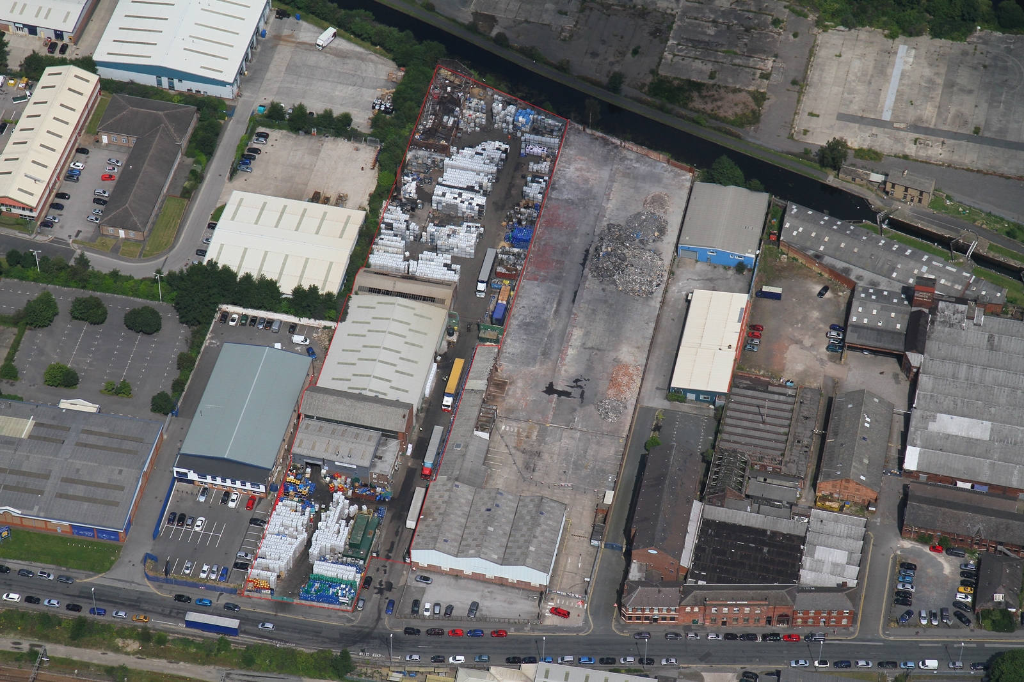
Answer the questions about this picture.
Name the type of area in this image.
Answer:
industrial area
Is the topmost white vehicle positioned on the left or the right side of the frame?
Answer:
left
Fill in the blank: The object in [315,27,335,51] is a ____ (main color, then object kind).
white vehicle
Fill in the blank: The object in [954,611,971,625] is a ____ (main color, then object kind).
black car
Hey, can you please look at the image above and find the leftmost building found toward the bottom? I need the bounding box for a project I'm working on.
[0,392,165,542]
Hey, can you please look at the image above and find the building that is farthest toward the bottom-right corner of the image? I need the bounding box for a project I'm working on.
[974,543,1024,619]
